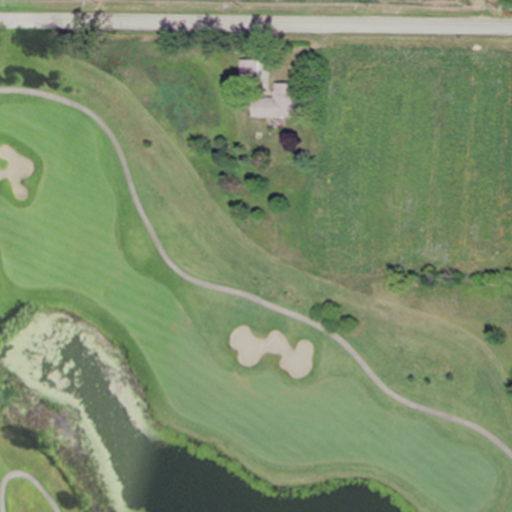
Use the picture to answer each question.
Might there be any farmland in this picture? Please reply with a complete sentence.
Yes, farmland shows up in the scene.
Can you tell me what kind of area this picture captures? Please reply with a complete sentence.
The picture captures a golf course.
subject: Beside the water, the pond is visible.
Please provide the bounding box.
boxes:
[2,312,393,512]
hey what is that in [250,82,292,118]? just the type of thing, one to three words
house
